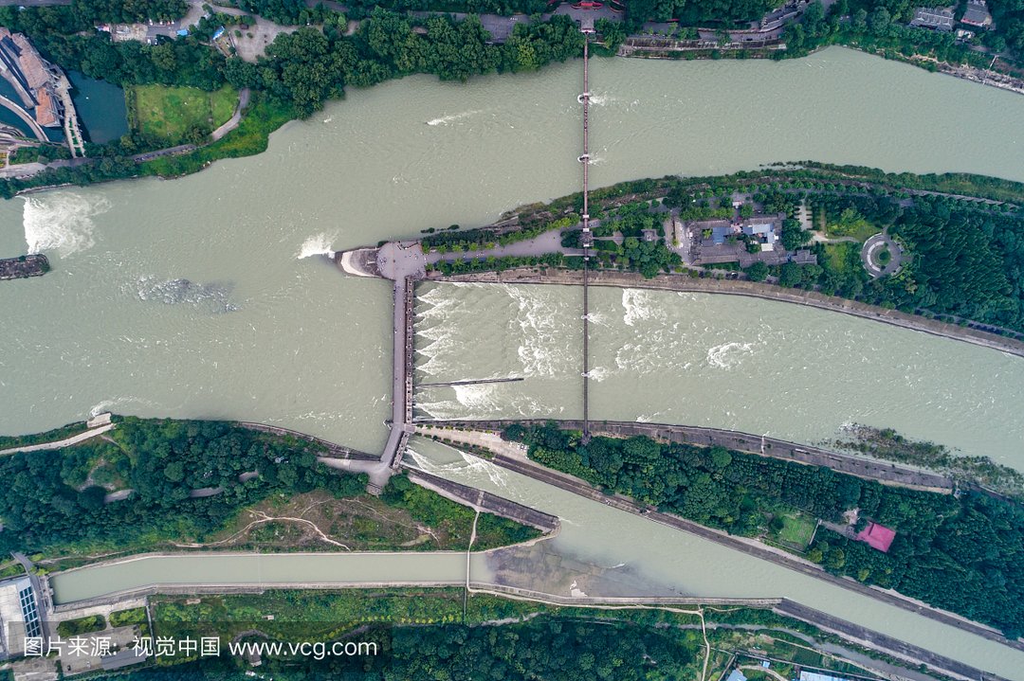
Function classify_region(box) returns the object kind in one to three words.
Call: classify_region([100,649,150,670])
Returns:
shed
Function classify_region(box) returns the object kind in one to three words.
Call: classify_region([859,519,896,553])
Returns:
house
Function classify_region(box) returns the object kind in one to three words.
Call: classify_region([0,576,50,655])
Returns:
building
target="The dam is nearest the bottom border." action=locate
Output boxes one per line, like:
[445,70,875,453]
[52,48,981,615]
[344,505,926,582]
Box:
[380,424,415,469]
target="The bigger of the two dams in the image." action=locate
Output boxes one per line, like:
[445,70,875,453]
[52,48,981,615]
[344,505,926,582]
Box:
[392,271,418,426]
